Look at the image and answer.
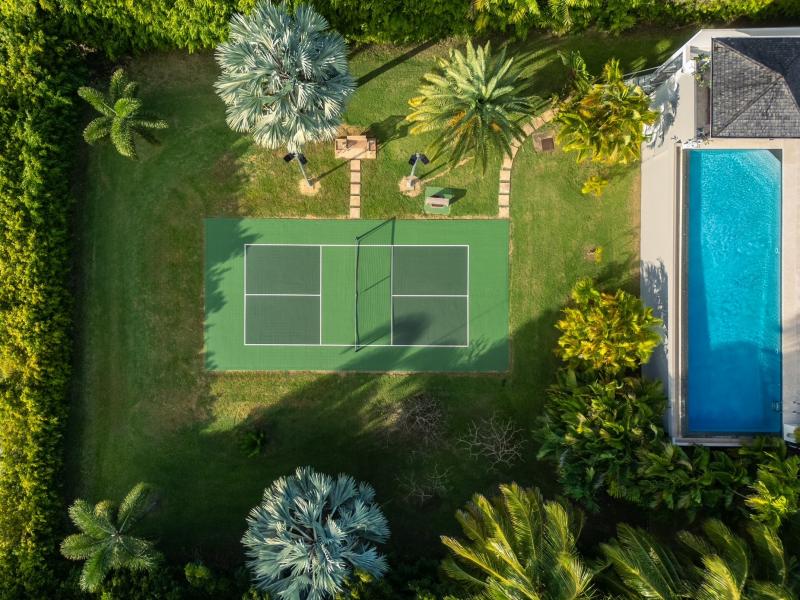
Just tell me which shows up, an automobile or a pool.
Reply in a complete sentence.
Of the two, only a pool appears.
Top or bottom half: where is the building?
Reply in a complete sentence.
It is in the top half that the building appears.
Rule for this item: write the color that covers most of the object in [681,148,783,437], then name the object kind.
blue swimming pool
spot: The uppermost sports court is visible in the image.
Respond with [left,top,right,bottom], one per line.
[204,219,509,372]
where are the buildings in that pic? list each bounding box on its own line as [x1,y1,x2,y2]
[710,36,800,138]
